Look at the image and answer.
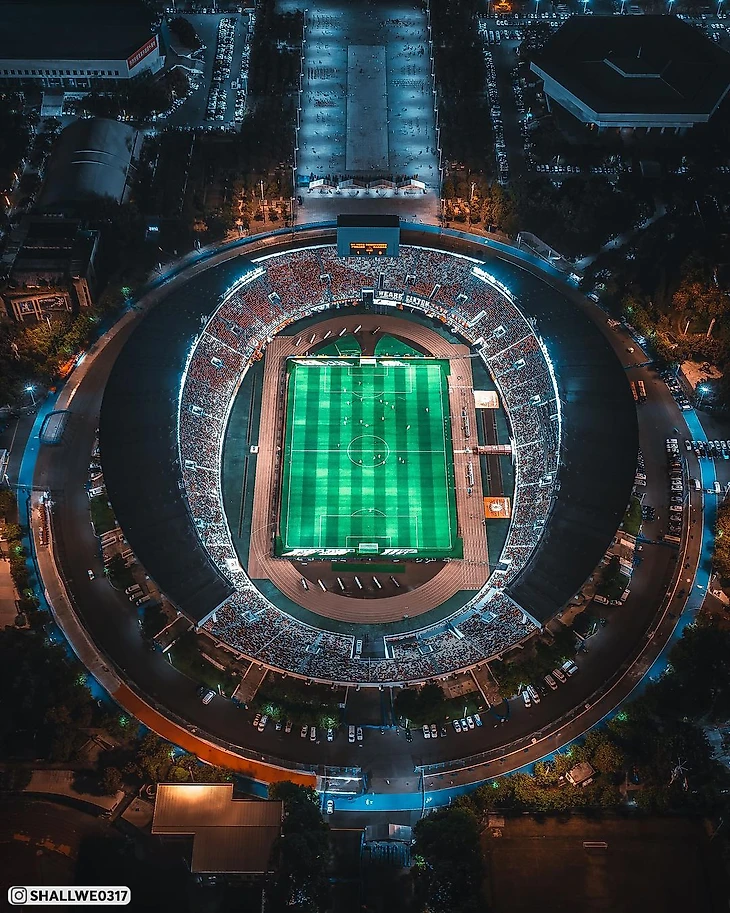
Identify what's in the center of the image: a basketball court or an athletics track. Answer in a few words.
athletics track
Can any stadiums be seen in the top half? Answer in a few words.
Yes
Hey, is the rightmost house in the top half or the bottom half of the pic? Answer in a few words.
bottom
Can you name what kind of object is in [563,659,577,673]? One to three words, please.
vehicle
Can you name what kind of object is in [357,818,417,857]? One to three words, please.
building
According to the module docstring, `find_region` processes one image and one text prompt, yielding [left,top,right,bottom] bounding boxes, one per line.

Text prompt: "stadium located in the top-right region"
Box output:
[529,15,730,141]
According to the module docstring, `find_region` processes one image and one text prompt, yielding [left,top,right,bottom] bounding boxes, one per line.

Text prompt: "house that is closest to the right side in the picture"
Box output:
[565,761,595,794]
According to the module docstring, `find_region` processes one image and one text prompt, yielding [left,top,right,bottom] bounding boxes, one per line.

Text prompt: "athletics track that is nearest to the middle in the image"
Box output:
[230,313,513,624]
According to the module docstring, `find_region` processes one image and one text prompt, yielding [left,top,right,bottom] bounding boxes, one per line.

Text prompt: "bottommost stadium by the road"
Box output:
[91,241,647,698]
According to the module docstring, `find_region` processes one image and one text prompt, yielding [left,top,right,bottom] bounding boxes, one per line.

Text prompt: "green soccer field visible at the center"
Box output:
[280,358,472,559]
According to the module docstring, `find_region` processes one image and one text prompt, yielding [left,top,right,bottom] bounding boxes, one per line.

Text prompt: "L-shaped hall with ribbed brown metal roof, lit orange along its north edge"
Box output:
[150,781,283,881]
